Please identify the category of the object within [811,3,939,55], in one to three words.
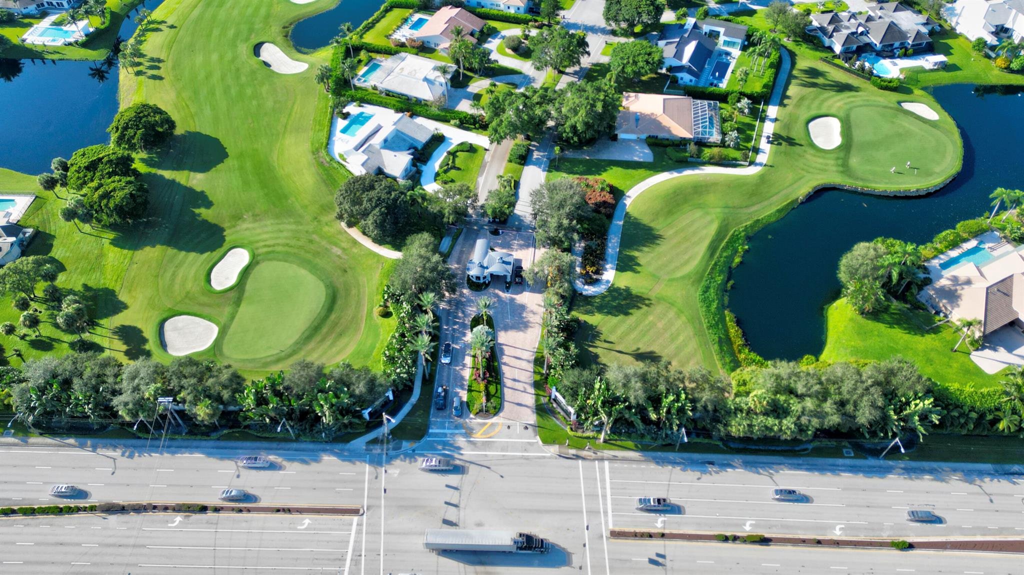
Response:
house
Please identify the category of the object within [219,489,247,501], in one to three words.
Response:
vehicle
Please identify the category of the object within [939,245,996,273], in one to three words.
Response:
swimming pool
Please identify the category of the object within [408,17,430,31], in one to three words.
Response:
swimming pool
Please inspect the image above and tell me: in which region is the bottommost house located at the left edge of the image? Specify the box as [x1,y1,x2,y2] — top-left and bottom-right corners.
[0,225,37,268]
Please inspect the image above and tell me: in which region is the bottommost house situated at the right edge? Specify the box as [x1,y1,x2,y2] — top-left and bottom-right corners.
[925,249,1024,339]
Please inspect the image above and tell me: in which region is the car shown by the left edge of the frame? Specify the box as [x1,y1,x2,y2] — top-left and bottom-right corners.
[49,486,78,498]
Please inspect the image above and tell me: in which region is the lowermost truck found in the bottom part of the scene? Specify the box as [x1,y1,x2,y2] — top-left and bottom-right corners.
[423,534,548,558]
